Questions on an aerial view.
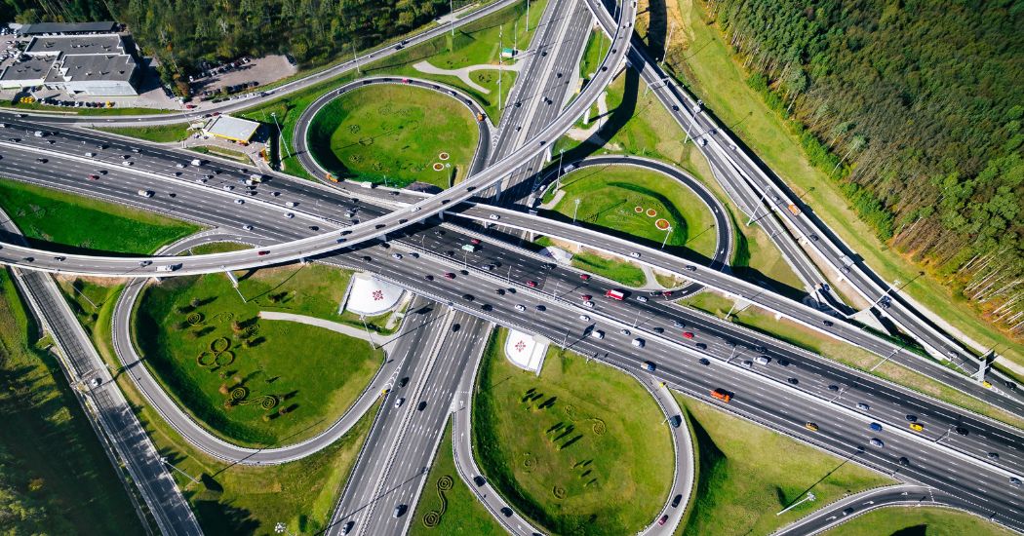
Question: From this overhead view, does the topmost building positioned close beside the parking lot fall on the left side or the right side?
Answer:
left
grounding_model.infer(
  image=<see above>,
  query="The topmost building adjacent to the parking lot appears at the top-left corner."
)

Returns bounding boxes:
[0,34,141,92]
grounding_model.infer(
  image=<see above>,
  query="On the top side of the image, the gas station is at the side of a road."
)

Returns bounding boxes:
[196,115,260,142]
